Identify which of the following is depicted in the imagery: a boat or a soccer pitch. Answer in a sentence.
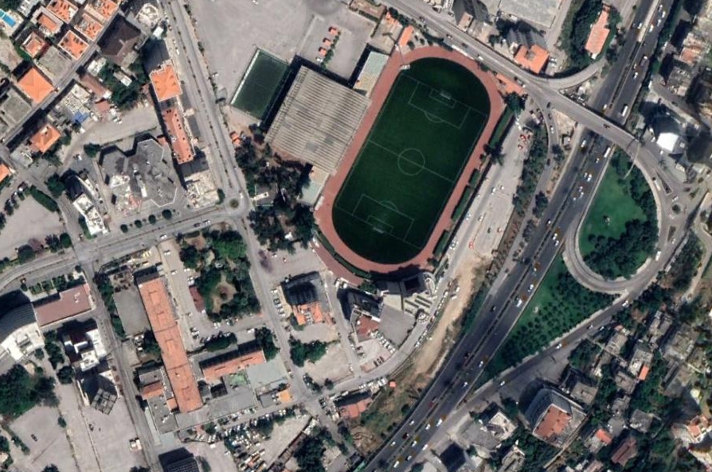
The one in the frame is a soccer pitch.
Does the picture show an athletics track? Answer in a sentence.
Yes, looking at the shot, I can spot an athletics track.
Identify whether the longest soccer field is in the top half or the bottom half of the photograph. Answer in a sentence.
Seen from above, the longest soccer field lies in the top half of the view.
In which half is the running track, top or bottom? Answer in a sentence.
It is in the top half that the running track appears.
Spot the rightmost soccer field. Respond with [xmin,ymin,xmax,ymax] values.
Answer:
[335,56,489,265]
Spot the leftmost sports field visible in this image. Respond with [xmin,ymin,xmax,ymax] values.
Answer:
[227,47,289,121]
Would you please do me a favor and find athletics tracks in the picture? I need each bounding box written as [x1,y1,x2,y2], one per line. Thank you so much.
[322,45,498,275]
